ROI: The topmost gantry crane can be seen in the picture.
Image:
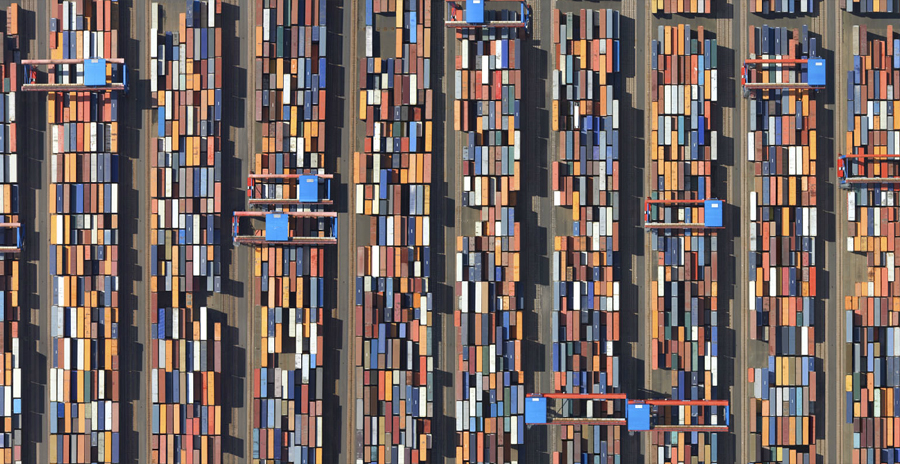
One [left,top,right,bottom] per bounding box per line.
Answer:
[444,0,524,40]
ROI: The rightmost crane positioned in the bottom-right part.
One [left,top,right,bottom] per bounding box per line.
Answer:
[626,395,729,439]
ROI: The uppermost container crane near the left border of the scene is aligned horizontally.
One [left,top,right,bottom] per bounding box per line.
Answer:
[21,57,127,102]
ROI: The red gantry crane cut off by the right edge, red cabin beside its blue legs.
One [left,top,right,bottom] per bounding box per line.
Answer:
[835,152,900,194]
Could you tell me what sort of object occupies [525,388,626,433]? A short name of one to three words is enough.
container crane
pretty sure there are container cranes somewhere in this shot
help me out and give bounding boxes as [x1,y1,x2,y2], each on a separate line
[525,388,626,433]
[0,220,24,254]
[835,152,900,194]
[444,0,524,40]
[234,209,338,254]
[626,395,729,439]
[249,171,333,212]
[641,197,725,239]
[741,58,826,101]
[21,57,127,102]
